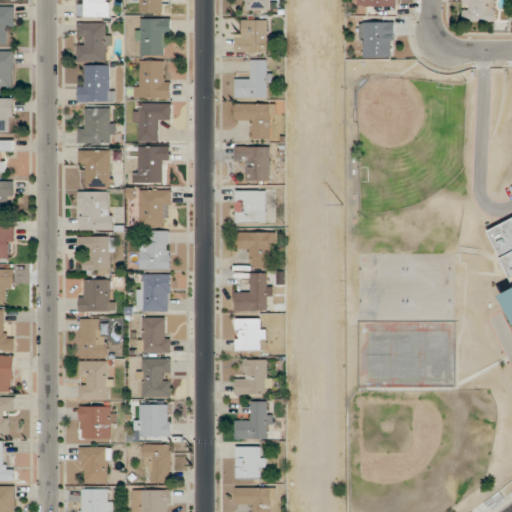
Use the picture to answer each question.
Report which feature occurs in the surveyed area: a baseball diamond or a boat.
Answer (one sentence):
I can see a baseball diamond in this picture.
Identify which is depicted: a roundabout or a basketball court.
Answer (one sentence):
The one in the frame is a basketball court.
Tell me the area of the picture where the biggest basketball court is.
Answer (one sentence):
The biggest basketball court is located in the right region of the scene.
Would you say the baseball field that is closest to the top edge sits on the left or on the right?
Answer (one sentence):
You can find the baseball field that is closest to the top edge on the right side of the picture.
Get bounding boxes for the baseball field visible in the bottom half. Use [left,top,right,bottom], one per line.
[362,398,442,483]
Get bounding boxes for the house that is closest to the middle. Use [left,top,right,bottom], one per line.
[237,232,278,272]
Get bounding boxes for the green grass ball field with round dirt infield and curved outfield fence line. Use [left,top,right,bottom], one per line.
[358,76,466,212]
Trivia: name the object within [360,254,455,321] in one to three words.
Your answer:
basketball court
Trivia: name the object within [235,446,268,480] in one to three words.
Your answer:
house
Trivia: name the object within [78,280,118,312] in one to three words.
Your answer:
house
